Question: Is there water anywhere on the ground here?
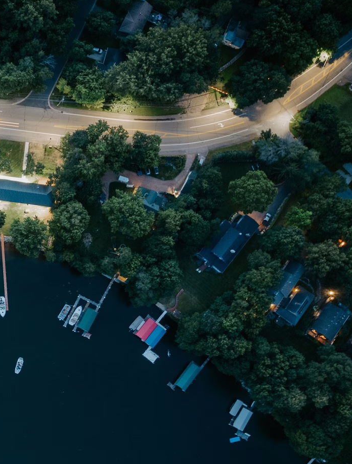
Yes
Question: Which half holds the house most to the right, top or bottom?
bottom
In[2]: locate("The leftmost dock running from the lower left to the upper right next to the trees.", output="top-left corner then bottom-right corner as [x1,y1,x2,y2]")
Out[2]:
[64,273,119,339]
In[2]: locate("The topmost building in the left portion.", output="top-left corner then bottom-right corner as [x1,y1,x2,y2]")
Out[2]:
[114,0,167,43]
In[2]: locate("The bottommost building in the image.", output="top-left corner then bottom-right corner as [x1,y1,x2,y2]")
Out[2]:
[304,302,350,345]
